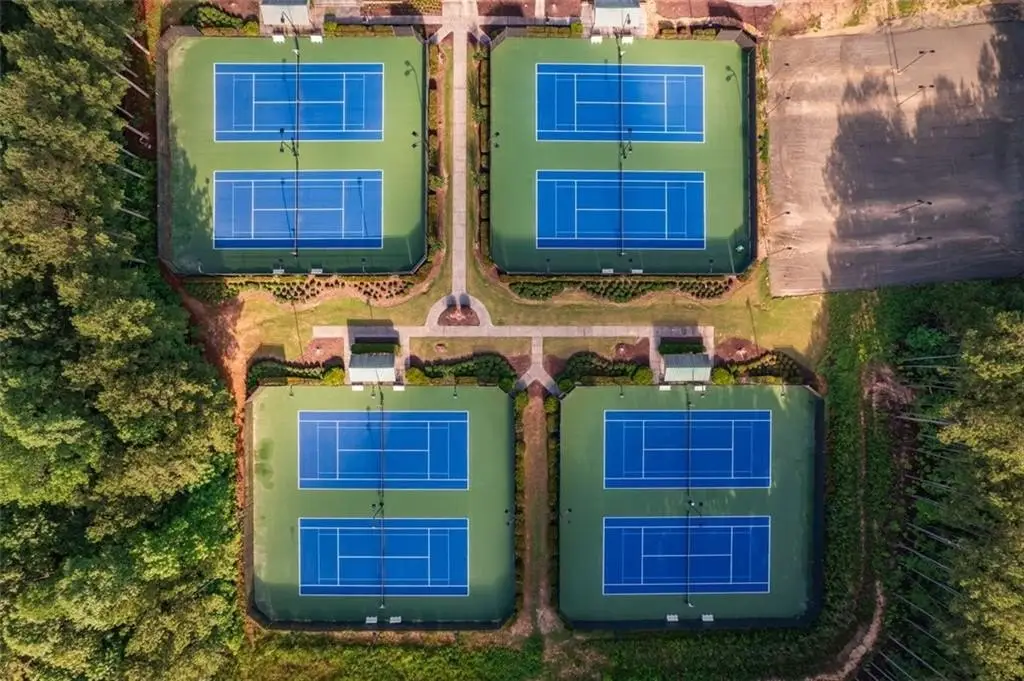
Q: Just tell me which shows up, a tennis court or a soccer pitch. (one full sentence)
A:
The image shows a tennis court.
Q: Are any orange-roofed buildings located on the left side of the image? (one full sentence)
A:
No, the scene shows no orange-roofed building on the left side of the image.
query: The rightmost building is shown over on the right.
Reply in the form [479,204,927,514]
[663,353,712,382]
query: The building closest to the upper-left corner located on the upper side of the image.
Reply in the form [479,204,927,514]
[260,0,311,31]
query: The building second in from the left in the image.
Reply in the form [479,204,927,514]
[348,353,396,382]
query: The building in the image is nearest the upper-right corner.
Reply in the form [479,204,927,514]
[593,0,640,33]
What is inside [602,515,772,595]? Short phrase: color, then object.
blue tennis court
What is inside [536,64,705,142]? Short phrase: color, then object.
blue tennis court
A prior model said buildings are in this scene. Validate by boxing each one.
[348,353,396,382]
[663,353,712,382]
[593,0,640,33]
[260,0,311,31]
